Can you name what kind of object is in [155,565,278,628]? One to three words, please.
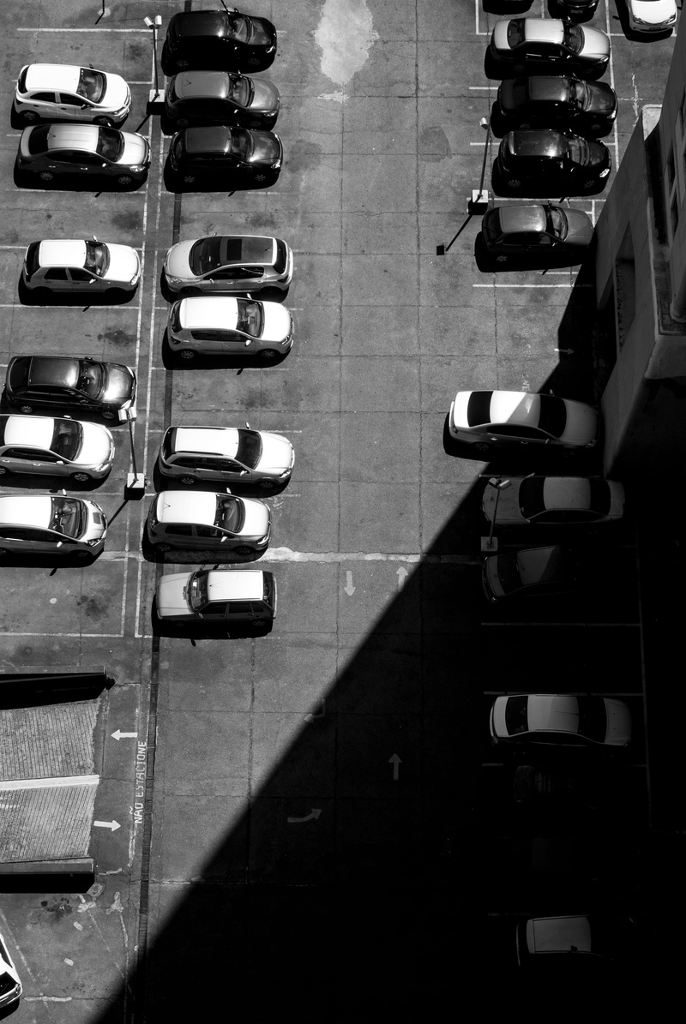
car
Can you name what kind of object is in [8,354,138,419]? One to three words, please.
car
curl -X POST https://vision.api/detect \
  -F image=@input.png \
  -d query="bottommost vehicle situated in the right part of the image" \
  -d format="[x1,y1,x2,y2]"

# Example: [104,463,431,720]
[516,911,652,981]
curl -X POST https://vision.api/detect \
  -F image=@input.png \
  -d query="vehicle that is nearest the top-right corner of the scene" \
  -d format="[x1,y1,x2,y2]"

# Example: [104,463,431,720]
[626,0,677,29]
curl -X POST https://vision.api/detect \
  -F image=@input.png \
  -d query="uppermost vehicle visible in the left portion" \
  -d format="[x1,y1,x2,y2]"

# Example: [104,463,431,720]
[166,0,278,68]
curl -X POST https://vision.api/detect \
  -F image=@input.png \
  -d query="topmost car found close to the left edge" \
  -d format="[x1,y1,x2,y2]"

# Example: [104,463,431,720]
[16,64,133,125]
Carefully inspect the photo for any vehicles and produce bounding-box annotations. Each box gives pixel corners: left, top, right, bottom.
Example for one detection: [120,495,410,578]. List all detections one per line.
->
[475,544,601,612]
[149,490,272,554]
[24,237,143,298]
[491,16,610,75]
[16,64,133,125]
[500,754,635,822]
[480,196,592,259]
[0,907,23,1012]
[0,492,109,558]
[626,0,677,29]
[8,354,138,419]
[170,123,283,183]
[485,469,625,536]
[500,72,617,132]
[162,425,296,489]
[516,911,652,981]
[19,124,153,185]
[0,415,116,481]
[449,390,601,460]
[170,294,293,359]
[490,692,631,759]
[166,0,278,68]
[166,68,281,129]
[498,129,611,189]
[165,233,293,298]
[155,565,278,628]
